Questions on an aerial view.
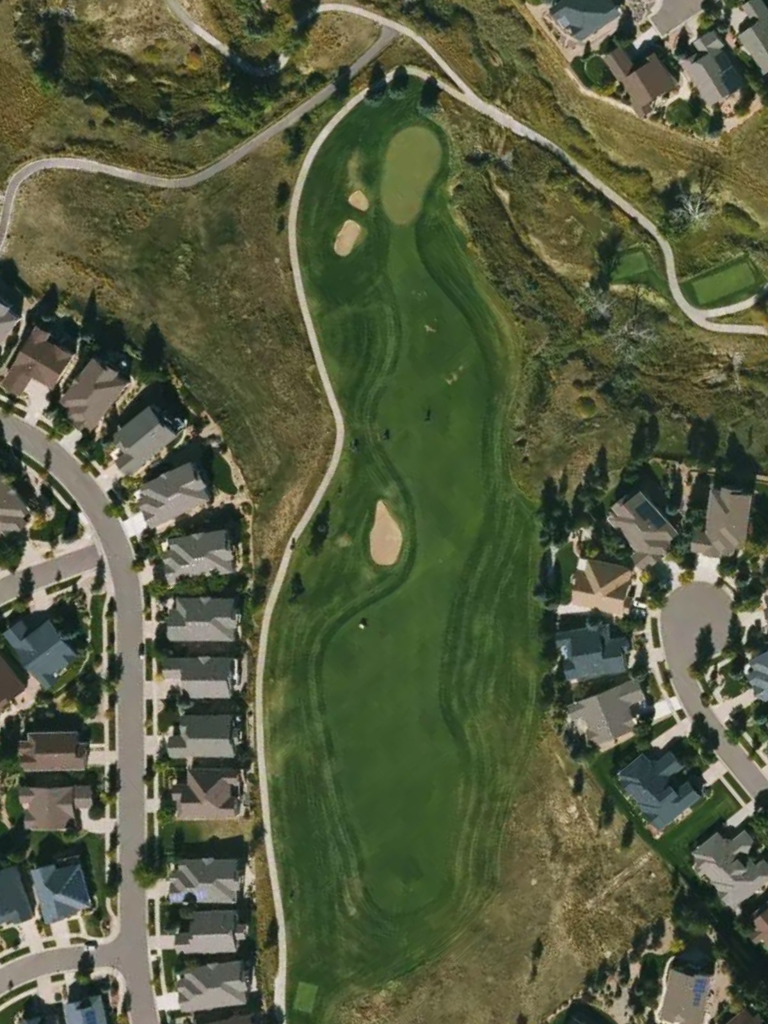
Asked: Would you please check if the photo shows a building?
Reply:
Yes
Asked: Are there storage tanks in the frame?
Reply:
No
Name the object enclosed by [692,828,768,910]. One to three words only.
house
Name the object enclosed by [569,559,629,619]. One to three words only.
house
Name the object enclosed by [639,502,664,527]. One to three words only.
solar panel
